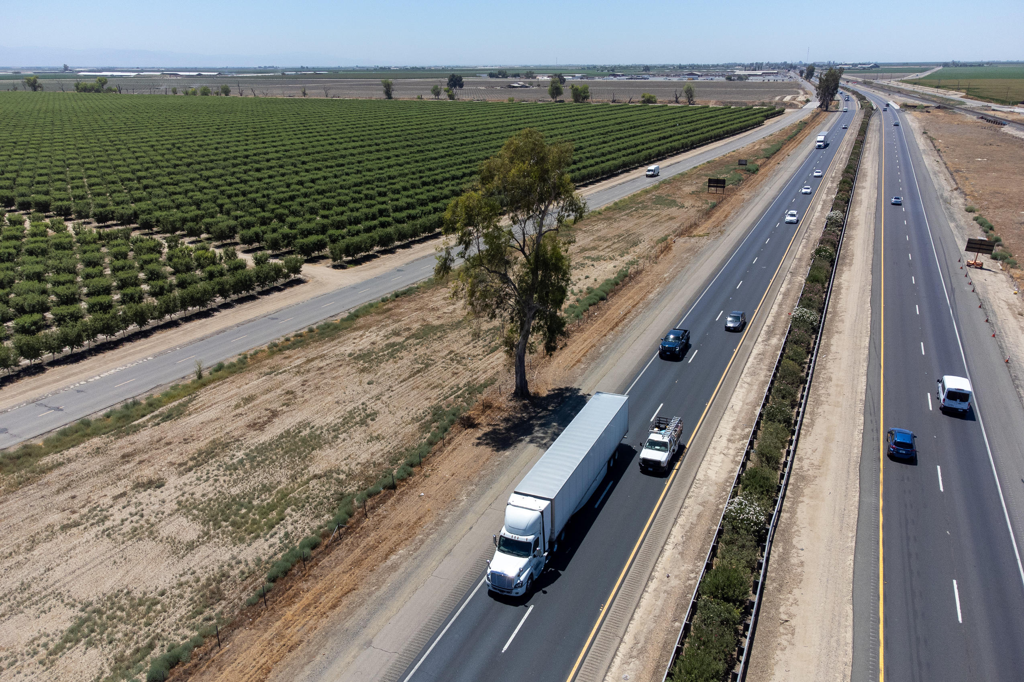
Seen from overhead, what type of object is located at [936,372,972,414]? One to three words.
van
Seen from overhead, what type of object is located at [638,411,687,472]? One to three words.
truck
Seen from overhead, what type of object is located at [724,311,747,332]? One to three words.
car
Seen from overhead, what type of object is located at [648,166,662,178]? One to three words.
vehicle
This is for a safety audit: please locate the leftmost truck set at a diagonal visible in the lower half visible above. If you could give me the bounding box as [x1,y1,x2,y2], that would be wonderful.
[484,390,635,600]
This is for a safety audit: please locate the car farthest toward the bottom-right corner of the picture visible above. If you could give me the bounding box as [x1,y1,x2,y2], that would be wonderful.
[888,426,920,460]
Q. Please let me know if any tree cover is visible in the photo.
Yes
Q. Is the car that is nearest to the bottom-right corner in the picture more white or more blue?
blue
